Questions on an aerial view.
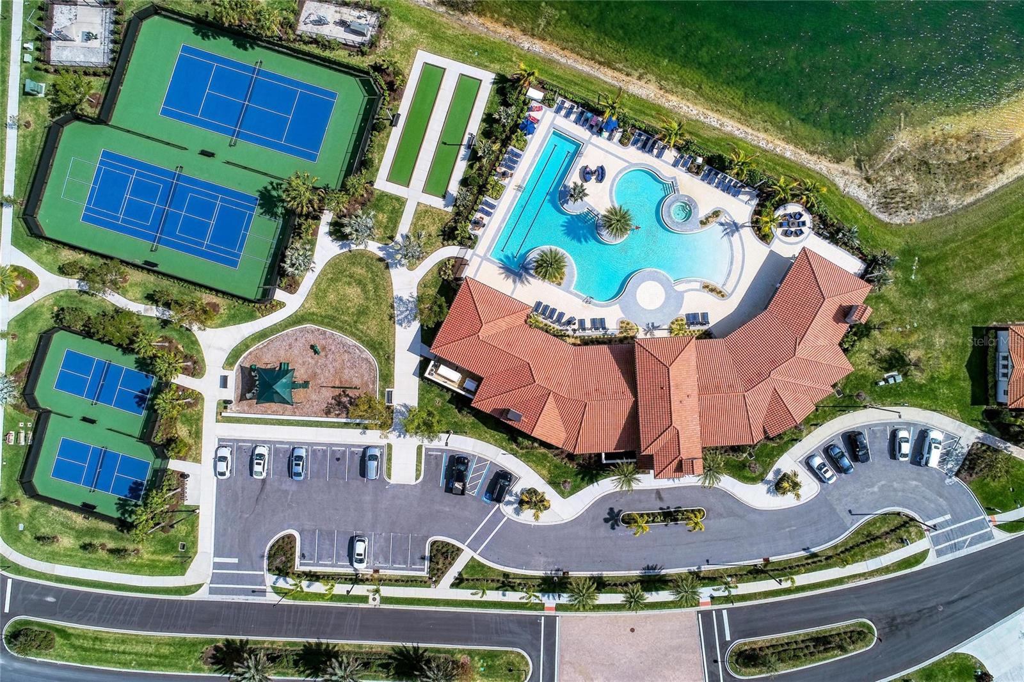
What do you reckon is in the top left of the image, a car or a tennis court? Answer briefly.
tennis court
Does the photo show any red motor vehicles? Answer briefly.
No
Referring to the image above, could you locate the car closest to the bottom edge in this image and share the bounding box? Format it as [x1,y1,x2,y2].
[352,535,368,568]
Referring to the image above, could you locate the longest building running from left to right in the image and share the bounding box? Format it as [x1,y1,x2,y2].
[430,246,874,479]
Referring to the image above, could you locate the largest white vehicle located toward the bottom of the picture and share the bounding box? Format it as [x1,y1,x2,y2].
[919,427,942,469]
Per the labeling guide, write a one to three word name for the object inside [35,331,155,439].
sports court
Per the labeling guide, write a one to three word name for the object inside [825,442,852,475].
car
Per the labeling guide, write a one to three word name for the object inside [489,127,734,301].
swimming pool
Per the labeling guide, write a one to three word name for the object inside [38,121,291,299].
tennis court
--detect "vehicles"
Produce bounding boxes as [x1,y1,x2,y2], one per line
[919,427,942,469]
[364,446,380,480]
[806,453,835,485]
[352,535,368,568]
[892,428,911,461]
[825,442,852,475]
[215,445,232,479]
[251,445,268,479]
[490,470,513,504]
[848,430,869,464]
[451,454,468,496]
[290,446,307,480]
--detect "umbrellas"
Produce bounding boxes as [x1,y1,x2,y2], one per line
[519,120,536,137]
[602,117,618,133]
